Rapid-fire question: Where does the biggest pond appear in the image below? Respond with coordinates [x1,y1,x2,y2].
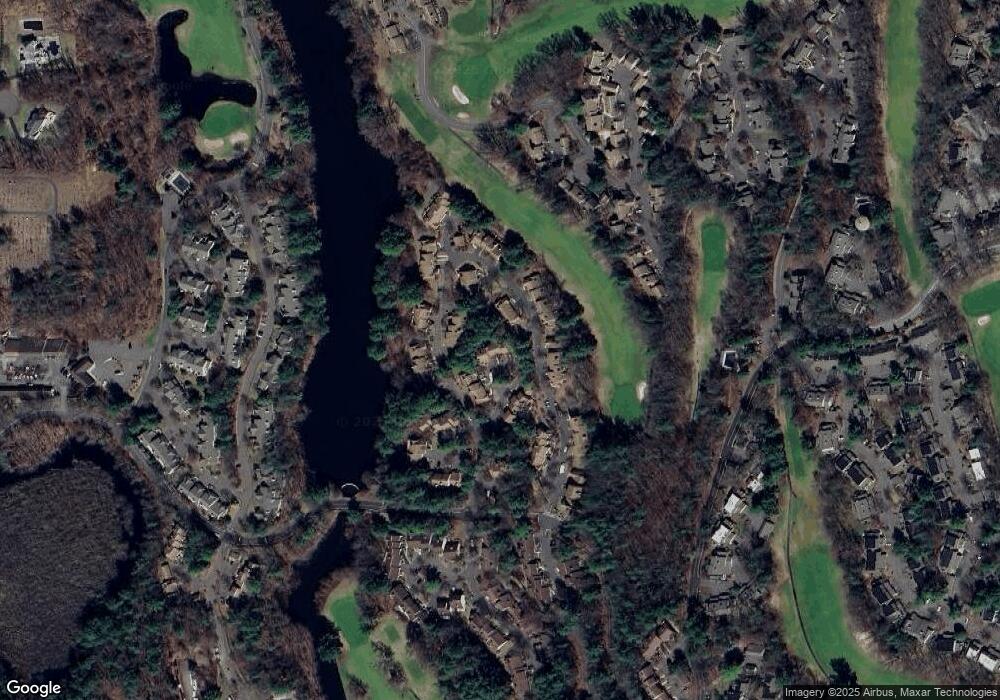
[155,10,257,121]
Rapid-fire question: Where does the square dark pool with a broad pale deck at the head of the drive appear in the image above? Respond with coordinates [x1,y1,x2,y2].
[169,171,190,193]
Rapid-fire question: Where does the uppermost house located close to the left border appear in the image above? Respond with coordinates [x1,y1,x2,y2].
[13,37,60,70]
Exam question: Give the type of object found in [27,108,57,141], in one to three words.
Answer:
house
